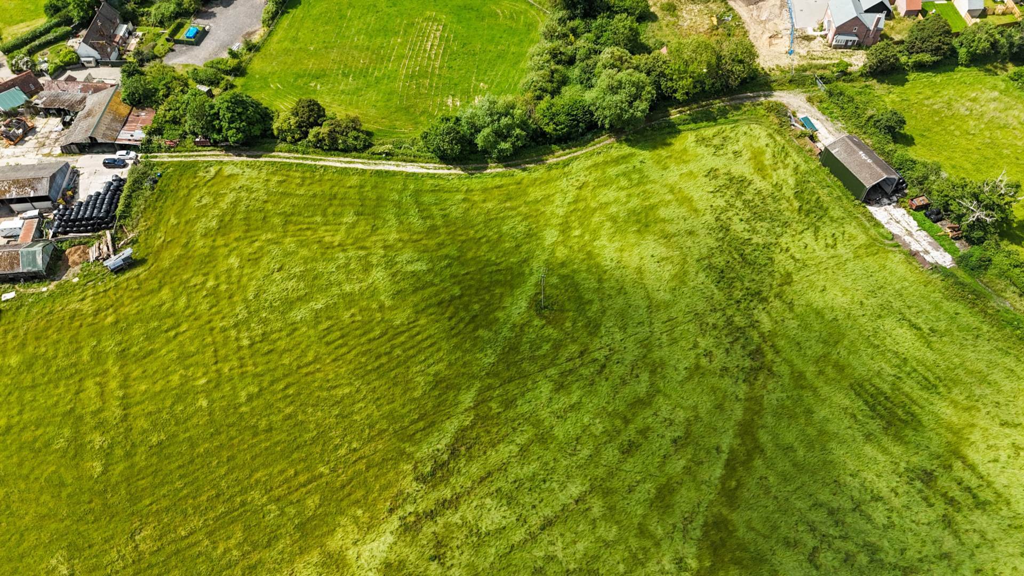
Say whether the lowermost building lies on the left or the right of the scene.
left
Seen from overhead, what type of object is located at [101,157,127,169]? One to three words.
vehicle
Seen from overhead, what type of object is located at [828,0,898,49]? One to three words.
house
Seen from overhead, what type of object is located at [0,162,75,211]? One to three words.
barn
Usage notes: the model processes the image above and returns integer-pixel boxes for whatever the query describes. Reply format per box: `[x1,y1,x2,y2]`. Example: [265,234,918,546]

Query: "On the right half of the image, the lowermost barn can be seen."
[822,135,903,197]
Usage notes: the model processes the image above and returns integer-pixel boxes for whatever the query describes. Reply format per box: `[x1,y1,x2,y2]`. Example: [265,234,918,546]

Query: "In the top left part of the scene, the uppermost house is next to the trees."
[76,0,134,68]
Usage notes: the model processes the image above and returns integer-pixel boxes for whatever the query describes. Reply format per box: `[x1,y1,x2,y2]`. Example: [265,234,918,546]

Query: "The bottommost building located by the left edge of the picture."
[0,237,61,282]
